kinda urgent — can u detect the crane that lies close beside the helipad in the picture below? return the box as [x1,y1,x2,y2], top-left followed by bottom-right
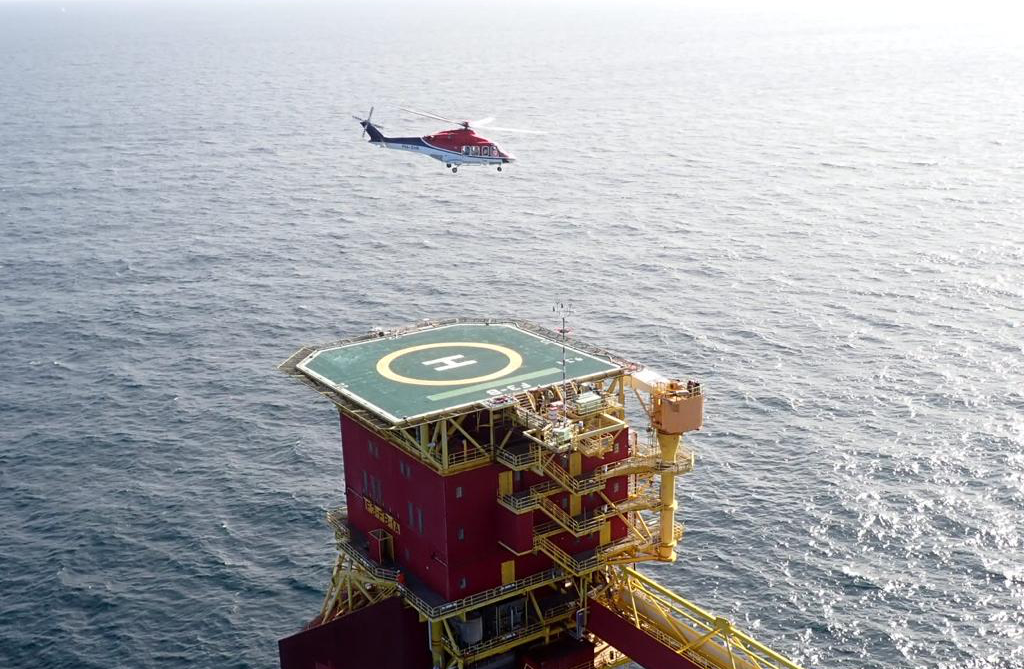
[585,343,706,569]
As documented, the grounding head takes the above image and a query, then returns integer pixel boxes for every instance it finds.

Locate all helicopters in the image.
[354,106,544,173]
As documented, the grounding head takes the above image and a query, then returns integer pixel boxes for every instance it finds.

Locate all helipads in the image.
[278,317,631,469]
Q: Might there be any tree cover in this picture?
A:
No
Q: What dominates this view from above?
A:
water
